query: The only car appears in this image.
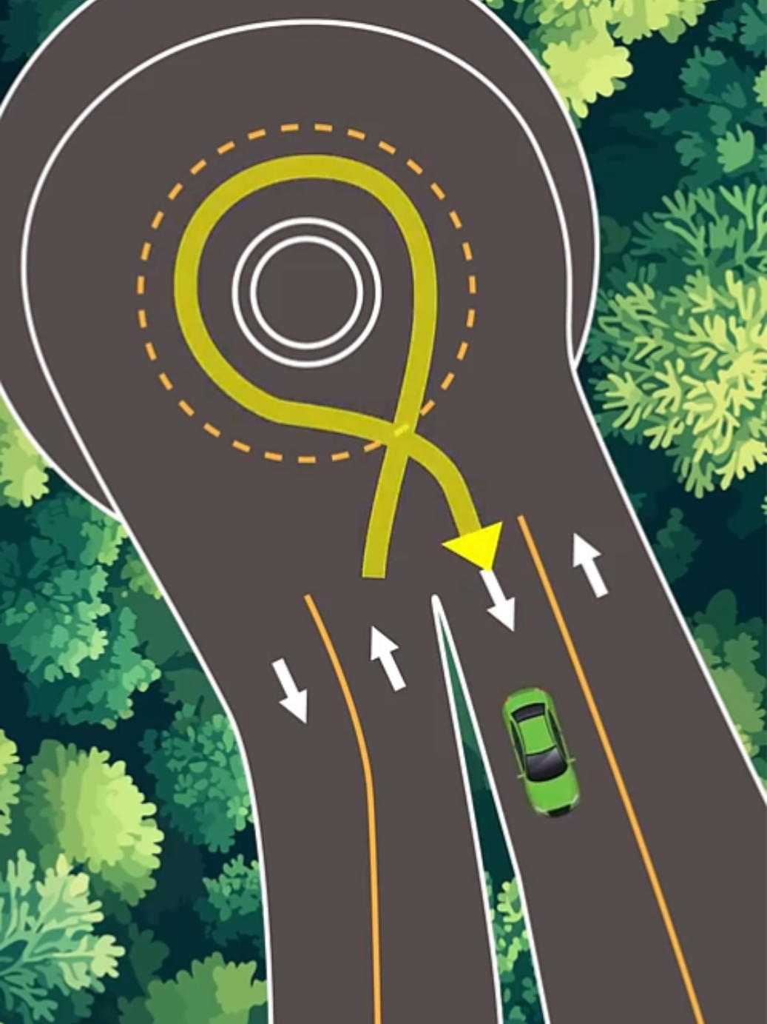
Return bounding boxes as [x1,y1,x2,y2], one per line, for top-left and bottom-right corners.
[503,685,581,818]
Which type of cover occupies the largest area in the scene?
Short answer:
paved ground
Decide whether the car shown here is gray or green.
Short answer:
green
